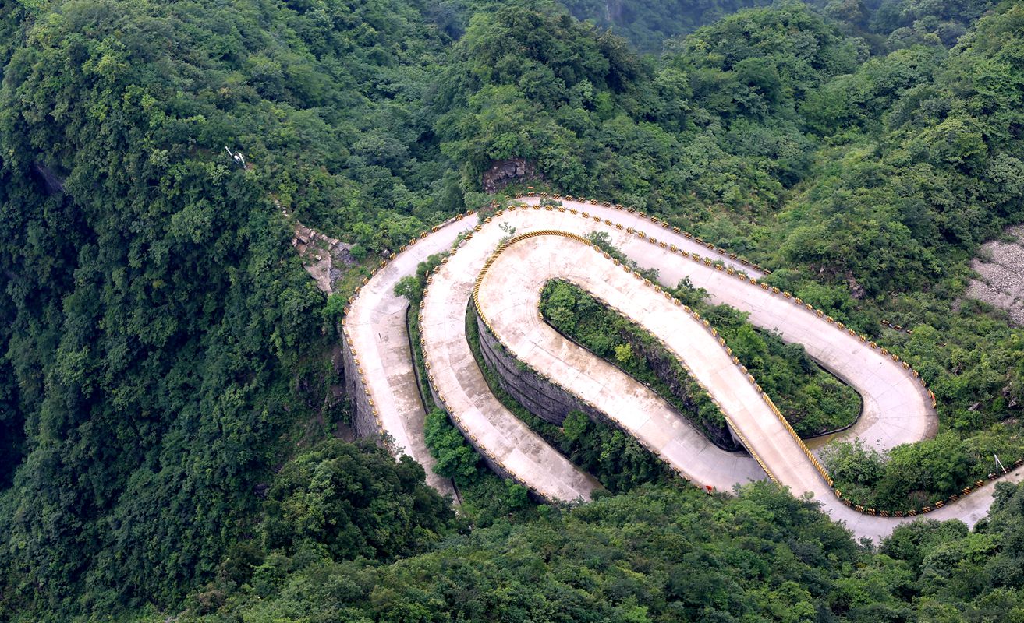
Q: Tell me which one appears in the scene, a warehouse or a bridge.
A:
bridge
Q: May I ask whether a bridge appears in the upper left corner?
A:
No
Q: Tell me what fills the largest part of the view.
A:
trees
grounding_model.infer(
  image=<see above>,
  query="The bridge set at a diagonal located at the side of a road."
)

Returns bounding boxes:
[721,417,789,508]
